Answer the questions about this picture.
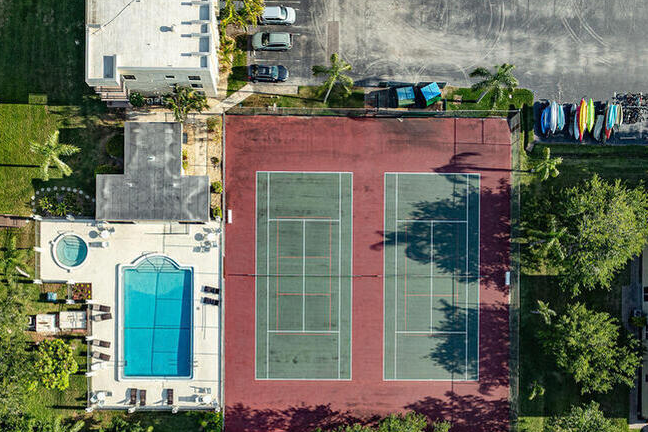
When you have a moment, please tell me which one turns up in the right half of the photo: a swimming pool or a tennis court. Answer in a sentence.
What appears in the right half of the photo is a tennis court.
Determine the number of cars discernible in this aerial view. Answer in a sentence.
Altogether the scene contains 3 cars.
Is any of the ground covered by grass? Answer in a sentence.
Yes, grass can be seen from above here.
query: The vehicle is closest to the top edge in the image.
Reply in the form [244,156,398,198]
[259,3,295,23]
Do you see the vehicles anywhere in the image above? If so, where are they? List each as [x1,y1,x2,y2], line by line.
[259,3,295,23]
[254,29,291,49]
[248,60,288,81]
